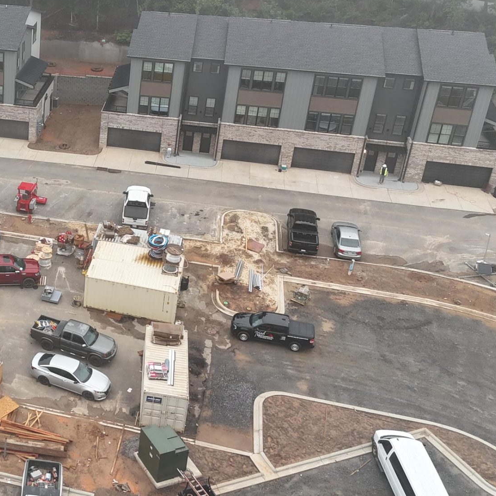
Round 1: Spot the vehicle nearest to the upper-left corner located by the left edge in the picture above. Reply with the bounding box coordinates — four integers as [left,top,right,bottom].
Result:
[16,174,61,211]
